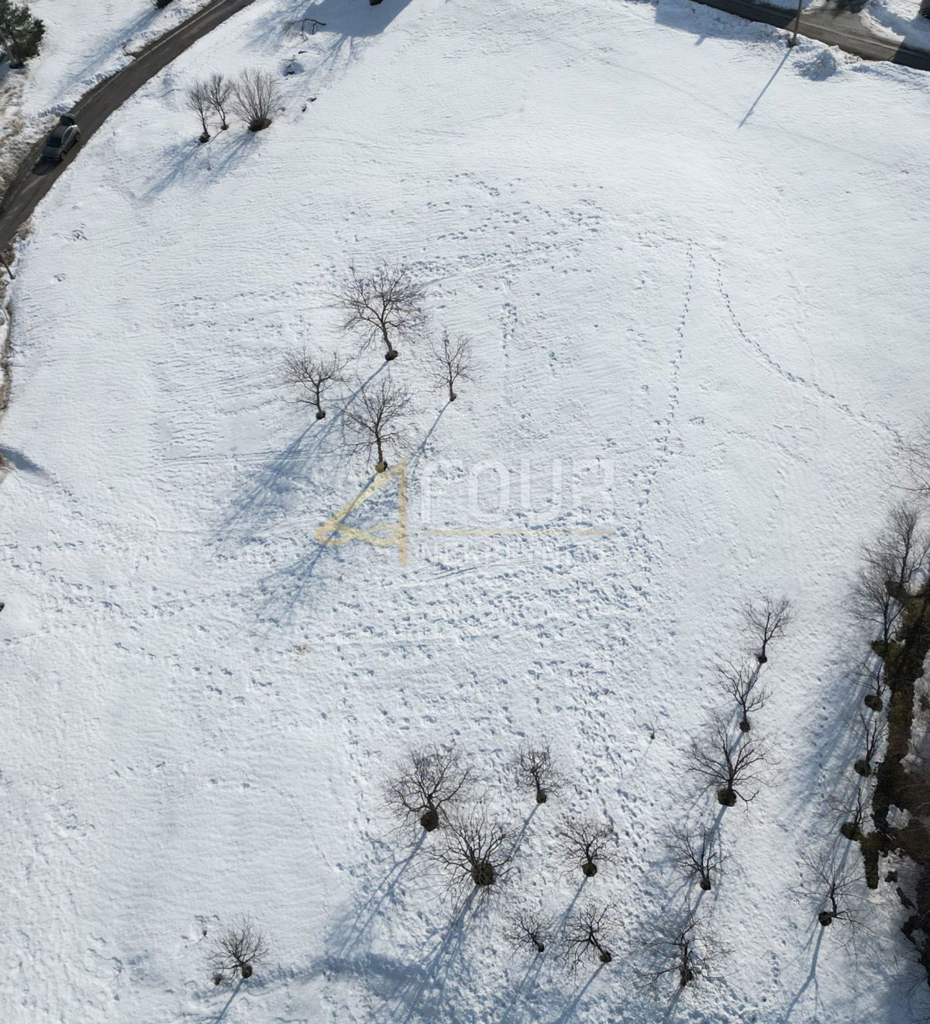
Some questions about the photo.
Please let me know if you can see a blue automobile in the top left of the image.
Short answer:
No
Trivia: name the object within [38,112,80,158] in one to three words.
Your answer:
car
